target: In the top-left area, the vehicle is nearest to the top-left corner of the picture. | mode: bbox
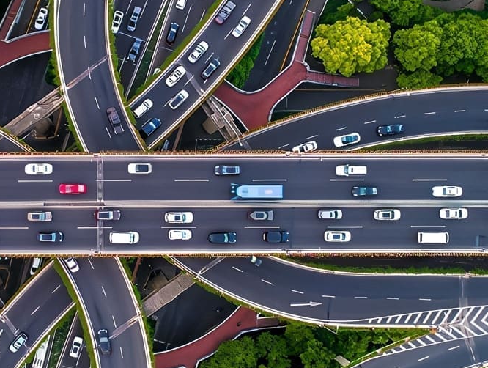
[34,7,47,31]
